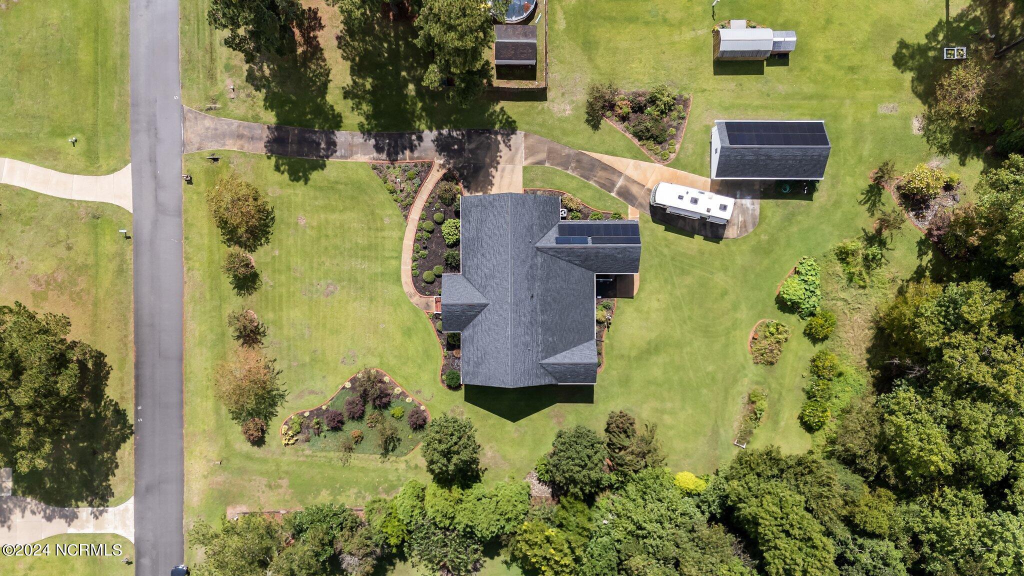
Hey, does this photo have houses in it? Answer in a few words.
Yes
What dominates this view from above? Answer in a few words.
grass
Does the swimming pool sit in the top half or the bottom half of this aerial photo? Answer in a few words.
top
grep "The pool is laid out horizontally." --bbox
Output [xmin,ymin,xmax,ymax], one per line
[490,0,537,22]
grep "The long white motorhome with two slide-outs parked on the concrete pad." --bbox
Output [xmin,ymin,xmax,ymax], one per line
[646,179,735,225]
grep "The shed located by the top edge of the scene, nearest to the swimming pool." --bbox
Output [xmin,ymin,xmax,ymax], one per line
[495,24,537,67]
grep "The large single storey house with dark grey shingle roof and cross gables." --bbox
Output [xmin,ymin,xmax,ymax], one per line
[434,193,641,388]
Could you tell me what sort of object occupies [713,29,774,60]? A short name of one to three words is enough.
barn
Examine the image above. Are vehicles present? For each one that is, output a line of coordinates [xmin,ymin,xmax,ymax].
[172,567,190,576]
[646,179,735,225]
